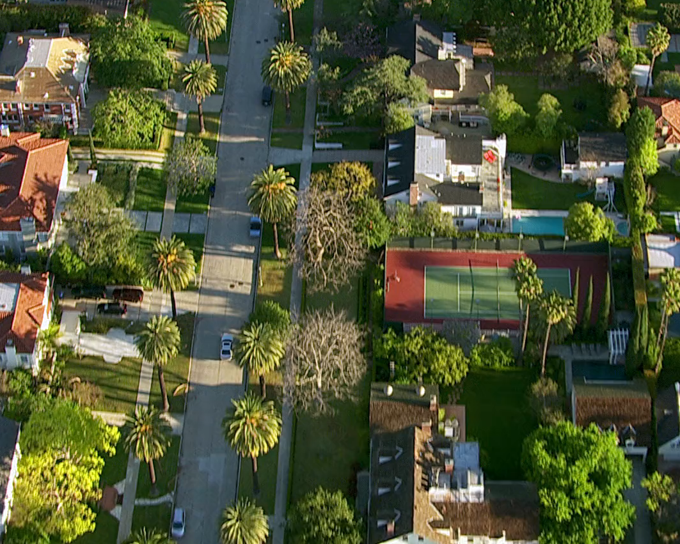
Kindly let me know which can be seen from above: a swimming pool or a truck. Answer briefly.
swimming pool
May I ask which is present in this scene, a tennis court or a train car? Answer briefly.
tennis court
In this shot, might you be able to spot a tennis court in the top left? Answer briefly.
No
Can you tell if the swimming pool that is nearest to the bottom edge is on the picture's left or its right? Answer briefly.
right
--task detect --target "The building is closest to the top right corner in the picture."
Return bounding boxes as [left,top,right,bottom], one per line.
[631,64,650,92]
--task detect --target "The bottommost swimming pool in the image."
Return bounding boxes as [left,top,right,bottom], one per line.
[570,358,628,379]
